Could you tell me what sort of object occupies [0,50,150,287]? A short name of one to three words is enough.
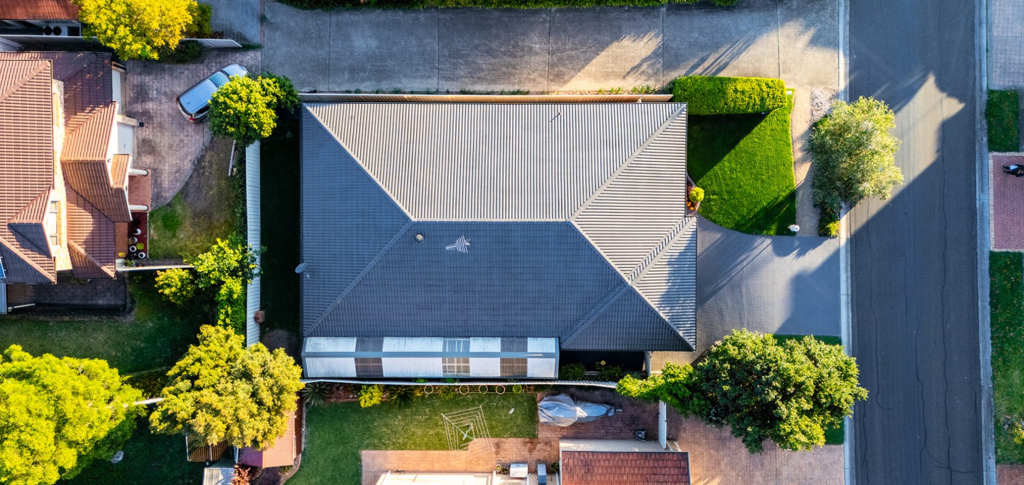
house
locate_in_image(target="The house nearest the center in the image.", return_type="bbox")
[301,100,699,354]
